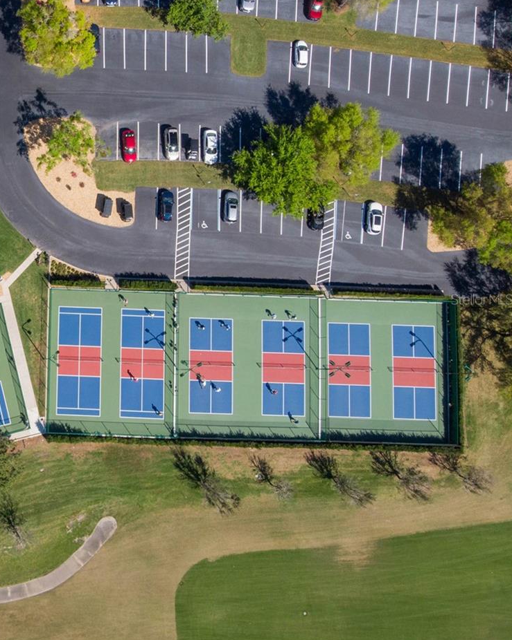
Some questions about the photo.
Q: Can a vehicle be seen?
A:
Yes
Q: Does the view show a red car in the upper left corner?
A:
Yes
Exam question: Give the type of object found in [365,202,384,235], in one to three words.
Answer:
car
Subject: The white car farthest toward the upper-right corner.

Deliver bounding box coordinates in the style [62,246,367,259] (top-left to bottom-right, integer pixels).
[293,41,310,69]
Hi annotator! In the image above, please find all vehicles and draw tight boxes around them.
[101,196,115,218]
[222,190,239,224]
[158,190,174,223]
[293,41,310,69]
[163,126,180,160]
[307,204,325,236]
[202,130,219,163]
[87,25,102,57]
[103,0,116,6]
[120,199,135,221]
[186,138,198,158]
[239,0,254,12]
[307,0,324,19]
[365,202,384,235]
[121,130,137,162]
